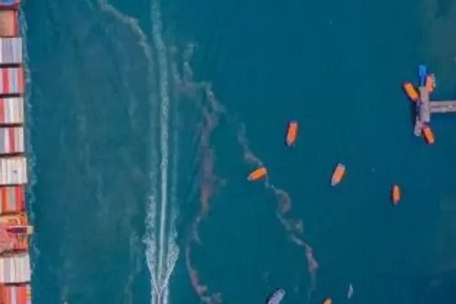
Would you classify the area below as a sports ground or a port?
port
